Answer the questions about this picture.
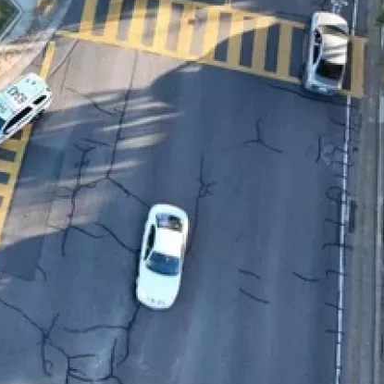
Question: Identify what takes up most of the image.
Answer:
paved ground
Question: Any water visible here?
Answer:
No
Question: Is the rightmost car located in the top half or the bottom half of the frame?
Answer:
top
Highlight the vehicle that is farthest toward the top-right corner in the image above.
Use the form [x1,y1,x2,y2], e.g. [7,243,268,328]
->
[298,12,356,99]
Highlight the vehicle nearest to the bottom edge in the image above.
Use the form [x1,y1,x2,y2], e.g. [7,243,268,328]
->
[133,201,191,316]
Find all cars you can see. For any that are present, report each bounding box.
[133,201,191,316]
[0,73,57,151]
[298,12,356,99]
